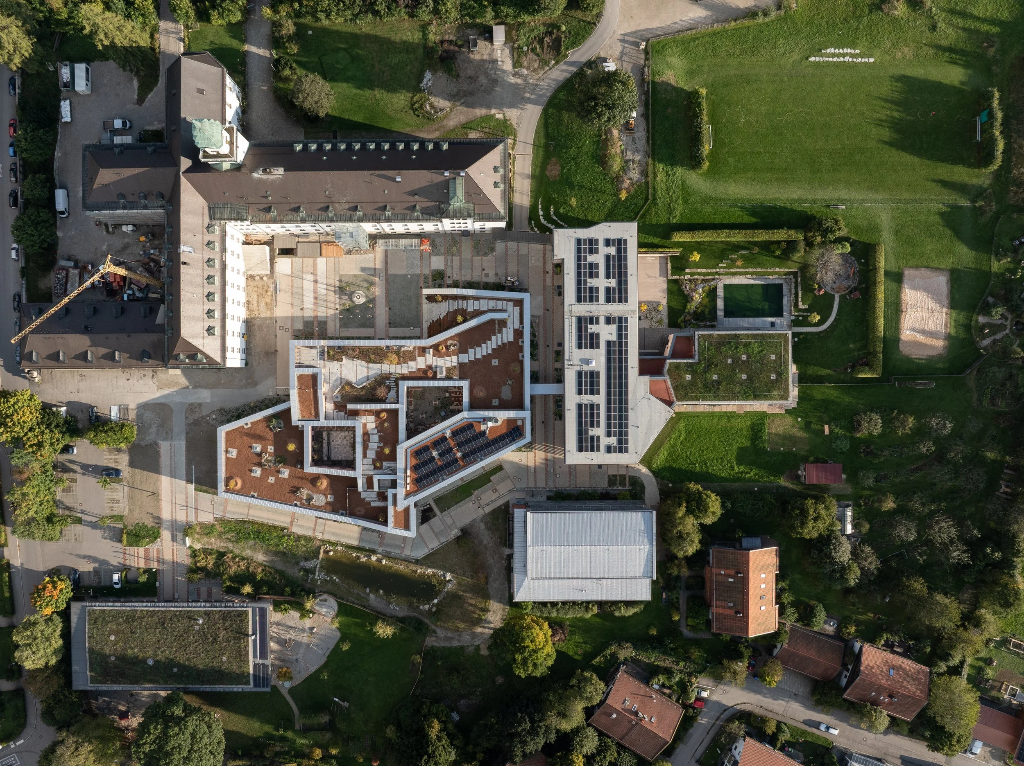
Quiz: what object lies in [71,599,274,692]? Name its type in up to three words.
building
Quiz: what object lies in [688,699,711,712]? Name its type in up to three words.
vehicle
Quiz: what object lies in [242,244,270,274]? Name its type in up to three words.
tent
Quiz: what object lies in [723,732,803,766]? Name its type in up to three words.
house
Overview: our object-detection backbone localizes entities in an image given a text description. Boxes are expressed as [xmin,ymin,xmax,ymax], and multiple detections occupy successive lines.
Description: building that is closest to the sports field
[552,221,675,464]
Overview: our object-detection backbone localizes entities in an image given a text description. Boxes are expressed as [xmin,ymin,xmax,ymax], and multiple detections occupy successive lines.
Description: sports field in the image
[638,13,999,232]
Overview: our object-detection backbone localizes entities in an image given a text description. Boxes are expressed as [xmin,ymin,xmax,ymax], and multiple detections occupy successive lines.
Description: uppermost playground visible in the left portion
[271,603,341,694]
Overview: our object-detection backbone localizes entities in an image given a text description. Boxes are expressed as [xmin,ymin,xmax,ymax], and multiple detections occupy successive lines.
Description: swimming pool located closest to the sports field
[717,278,791,327]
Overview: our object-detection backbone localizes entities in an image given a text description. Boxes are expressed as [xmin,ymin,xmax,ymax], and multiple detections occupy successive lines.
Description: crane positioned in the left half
[10,253,165,342]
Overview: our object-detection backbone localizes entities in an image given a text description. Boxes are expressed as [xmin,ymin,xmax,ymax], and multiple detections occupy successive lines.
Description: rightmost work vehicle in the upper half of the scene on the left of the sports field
[626,111,638,137]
